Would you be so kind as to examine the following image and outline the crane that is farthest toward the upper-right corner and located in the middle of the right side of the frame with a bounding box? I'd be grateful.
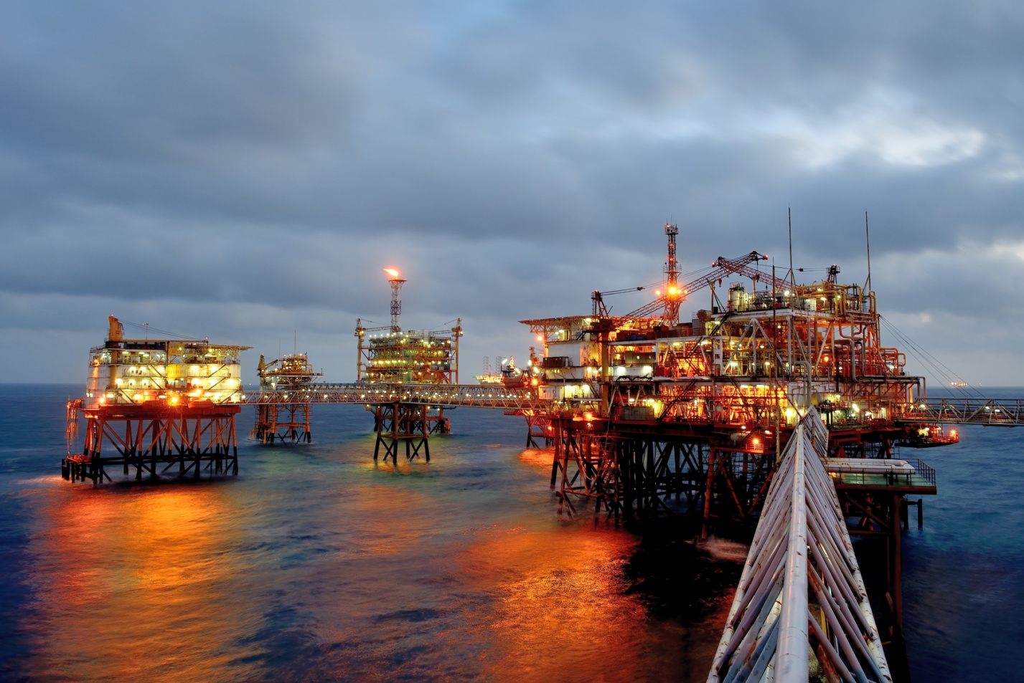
[711,258,839,338]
